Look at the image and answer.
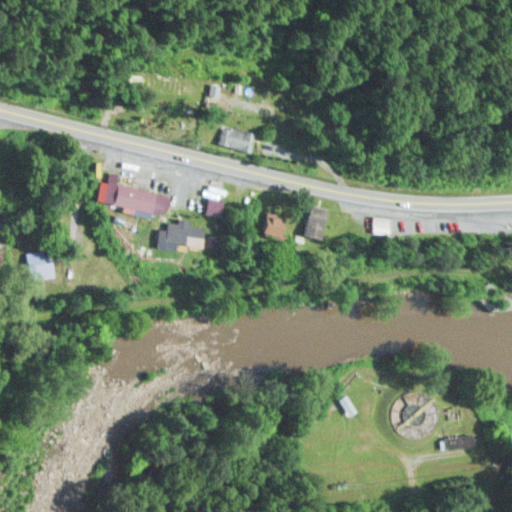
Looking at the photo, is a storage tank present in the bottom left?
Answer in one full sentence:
No, looking in the bottom left, there is no storage tank.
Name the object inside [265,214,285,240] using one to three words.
house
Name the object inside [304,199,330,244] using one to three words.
house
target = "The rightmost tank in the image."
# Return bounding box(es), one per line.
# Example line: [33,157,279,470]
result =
[390,392,438,440]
